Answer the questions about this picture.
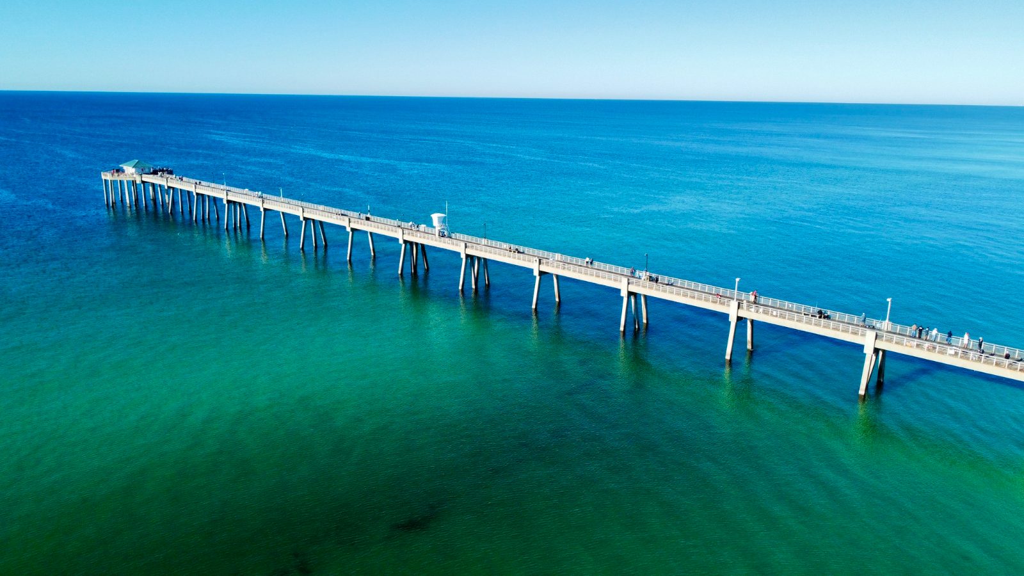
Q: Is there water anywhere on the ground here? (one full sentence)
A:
Yes, water shows up in the scene.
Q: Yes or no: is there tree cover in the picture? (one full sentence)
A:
No, there is no tree cover in the image.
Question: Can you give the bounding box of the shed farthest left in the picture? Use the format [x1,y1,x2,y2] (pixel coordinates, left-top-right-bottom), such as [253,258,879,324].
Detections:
[119,159,155,175]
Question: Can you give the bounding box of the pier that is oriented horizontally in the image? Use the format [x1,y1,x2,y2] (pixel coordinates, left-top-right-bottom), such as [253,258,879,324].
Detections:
[100,168,1024,394]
